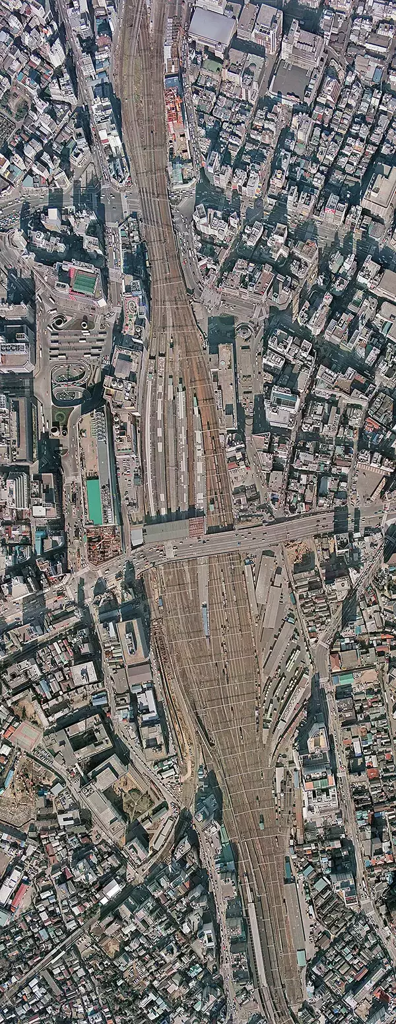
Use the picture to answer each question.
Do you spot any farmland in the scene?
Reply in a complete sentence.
No, there's no farmland in this view.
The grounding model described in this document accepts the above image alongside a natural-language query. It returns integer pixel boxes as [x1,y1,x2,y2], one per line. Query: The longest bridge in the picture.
[113,514,333,577]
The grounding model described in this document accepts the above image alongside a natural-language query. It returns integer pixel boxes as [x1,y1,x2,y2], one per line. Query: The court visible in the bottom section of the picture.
[10,723,41,751]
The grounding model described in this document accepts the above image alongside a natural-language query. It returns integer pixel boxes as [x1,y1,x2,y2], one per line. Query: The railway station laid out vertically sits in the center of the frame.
[130,357,206,545]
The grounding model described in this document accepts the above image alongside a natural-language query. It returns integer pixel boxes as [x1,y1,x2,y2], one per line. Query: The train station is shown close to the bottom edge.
[244,873,274,986]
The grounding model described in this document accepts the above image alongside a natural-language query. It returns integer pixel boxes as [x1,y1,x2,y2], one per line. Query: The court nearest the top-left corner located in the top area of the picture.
[73,270,98,294]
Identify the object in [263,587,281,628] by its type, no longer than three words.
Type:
shed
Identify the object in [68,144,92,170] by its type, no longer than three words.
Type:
building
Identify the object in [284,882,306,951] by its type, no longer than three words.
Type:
shed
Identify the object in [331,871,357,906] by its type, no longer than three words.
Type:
building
